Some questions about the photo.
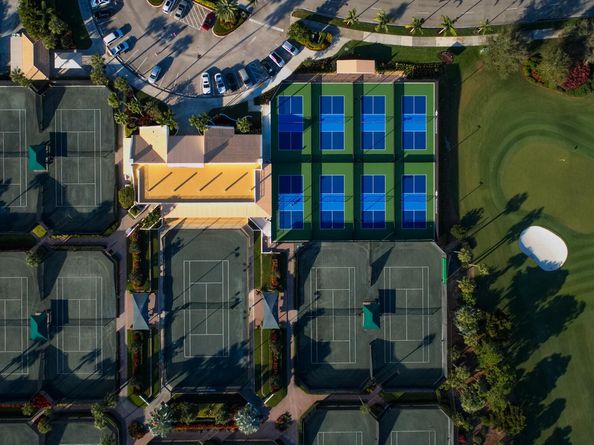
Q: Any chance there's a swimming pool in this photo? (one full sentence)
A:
No, I find no swimming pool anywhere in the image.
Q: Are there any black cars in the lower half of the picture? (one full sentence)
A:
No, there's no black car to be seen in the lower half of the picture.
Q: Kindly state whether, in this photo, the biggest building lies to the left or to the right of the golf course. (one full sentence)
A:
Compared with the golf course, the biggest building is located further to the left.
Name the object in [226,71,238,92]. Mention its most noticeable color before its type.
black vehicle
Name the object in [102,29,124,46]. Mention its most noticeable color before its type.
white car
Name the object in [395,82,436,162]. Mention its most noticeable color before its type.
blue sports court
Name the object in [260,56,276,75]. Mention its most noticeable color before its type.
black car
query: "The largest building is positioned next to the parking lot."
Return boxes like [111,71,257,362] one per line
[124,125,270,219]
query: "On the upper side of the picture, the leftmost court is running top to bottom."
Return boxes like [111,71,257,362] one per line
[0,87,40,233]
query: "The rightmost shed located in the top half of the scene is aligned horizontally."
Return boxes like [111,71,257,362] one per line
[336,58,375,74]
